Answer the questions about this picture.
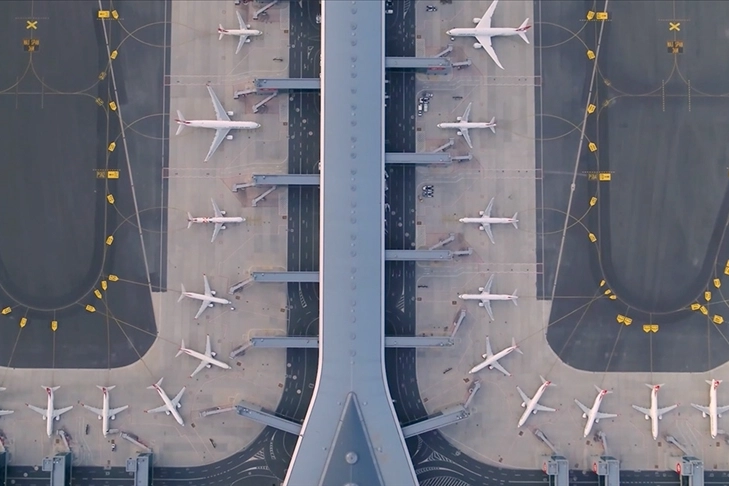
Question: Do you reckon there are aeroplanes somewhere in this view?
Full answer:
Yes, this view includes an aeroplane.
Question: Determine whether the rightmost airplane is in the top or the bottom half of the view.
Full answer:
The bottom half of the photo is where the rightmost airplane is.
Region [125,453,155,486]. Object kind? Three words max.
building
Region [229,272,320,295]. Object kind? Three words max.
jet bridge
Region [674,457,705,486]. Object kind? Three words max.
building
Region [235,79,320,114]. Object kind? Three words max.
jet bridge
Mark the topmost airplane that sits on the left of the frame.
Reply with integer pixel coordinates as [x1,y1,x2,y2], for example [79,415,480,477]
[217,11,263,53]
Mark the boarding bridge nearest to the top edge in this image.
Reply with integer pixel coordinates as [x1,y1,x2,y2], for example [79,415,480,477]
[235,0,321,23]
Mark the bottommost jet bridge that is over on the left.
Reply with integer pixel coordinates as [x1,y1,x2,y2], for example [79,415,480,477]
[200,399,301,434]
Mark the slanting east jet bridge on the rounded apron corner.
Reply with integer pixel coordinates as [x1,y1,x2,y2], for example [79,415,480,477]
[402,381,479,438]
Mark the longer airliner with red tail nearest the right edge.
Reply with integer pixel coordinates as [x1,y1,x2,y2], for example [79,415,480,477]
[691,379,729,439]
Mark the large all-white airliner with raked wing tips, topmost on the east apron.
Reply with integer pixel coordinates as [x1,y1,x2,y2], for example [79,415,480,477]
[446,0,532,68]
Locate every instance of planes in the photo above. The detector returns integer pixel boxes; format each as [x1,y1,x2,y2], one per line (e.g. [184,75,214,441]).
[575,387,618,437]
[147,379,186,425]
[182,275,232,319]
[446,0,532,68]
[517,377,556,427]
[437,102,497,148]
[468,337,520,378]
[217,11,263,53]
[187,197,246,243]
[177,335,231,379]
[458,198,519,243]
[26,386,73,438]
[691,379,729,439]
[633,387,679,440]
[82,386,128,436]
[173,84,261,161]
[458,274,519,320]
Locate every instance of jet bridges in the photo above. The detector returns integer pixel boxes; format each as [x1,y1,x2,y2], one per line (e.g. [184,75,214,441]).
[402,381,479,438]
[385,137,473,166]
[385,44,473,75]
[234,174,320,208]
[235,79,320,114]
[385,312,466,347]
[229,337,319,359]
[385,233,473,260]
[235,0,321,23]
[200,399,301,434]
[229,272,320,295]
